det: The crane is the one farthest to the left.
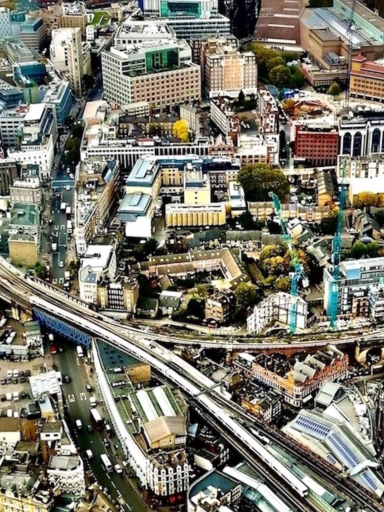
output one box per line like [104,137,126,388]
[270,192,313,312]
